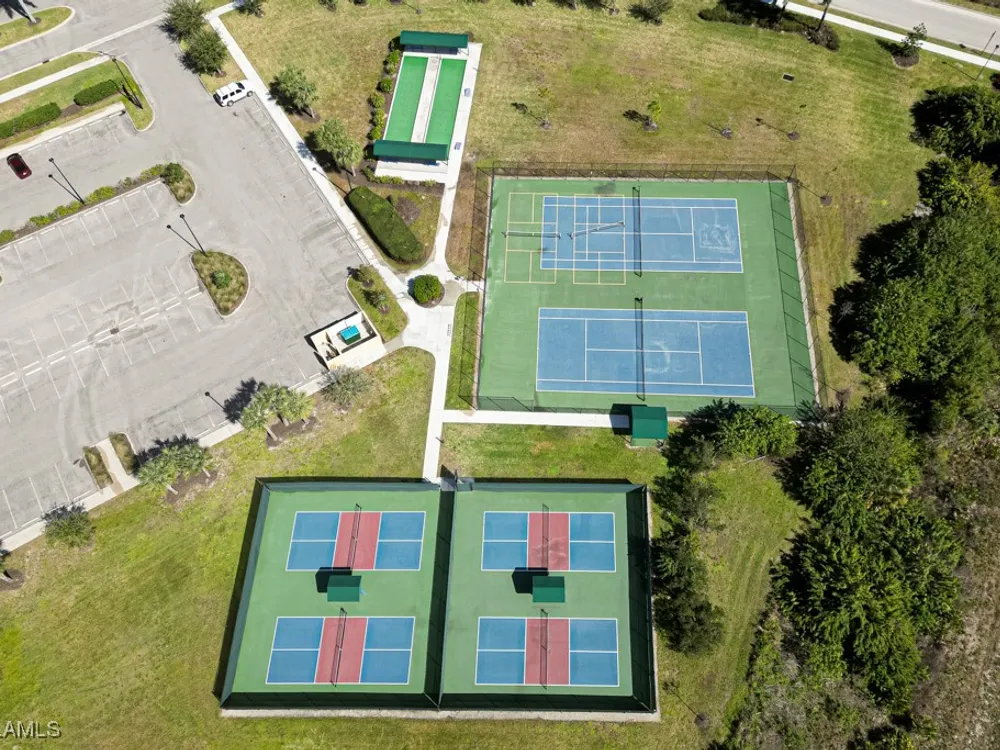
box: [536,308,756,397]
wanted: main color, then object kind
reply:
blue tennis court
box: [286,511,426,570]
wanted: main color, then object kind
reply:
blue sports court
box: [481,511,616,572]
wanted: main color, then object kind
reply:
blue sports court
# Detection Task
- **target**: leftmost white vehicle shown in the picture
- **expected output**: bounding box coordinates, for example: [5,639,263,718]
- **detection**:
[215,78,255,104]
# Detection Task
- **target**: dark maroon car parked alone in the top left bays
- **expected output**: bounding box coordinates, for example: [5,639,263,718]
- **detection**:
[6,150,33,181]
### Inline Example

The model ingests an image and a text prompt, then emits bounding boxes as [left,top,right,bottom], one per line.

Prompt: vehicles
[215,78,255,104]
[6,150,33,181]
